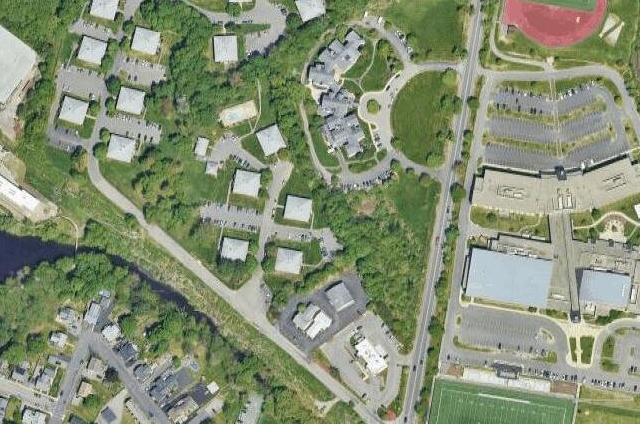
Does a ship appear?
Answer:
No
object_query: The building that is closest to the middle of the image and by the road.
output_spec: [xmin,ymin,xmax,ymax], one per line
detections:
[284,195,313,223]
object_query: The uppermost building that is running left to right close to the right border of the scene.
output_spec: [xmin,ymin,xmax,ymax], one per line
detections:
[472,156,640,214]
